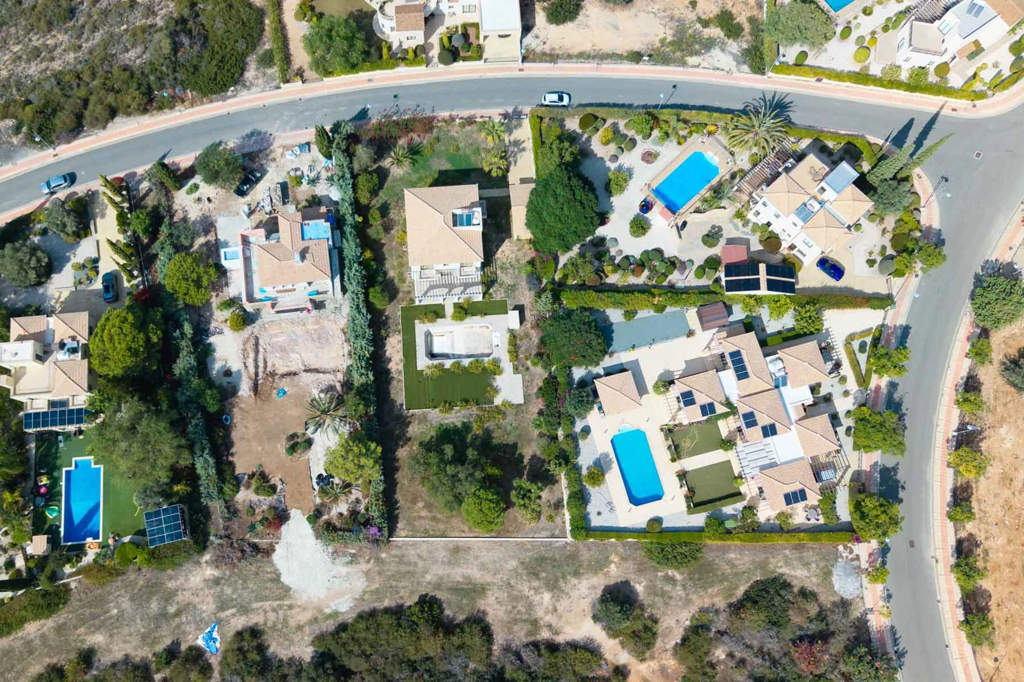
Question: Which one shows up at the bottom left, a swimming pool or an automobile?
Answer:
swimming pool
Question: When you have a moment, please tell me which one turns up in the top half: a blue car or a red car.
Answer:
blue car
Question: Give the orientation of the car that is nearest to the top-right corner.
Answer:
on a diagonal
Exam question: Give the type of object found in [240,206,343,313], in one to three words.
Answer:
house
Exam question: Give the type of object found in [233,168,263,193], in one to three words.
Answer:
car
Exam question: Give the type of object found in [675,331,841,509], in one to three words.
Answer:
house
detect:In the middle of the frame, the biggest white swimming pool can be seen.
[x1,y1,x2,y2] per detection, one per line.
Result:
[422,322,501,363]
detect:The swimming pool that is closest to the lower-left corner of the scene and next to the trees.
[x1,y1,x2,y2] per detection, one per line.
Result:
[60,455,104,546]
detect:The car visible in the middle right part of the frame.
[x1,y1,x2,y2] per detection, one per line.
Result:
[814,257,846,283]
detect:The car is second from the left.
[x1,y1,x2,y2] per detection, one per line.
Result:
[100,271,119,302]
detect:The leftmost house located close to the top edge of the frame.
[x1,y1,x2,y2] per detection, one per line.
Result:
[363,0,480,67]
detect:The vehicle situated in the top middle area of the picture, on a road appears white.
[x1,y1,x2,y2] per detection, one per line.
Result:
[542,91,570,106]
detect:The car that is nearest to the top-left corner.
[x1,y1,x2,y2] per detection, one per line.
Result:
[38,173,72,193]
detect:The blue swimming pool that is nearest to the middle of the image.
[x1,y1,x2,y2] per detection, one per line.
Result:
[609,424,665,508]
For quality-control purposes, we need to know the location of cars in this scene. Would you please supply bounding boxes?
[233,168,263,193]
[814,257,846,283]
[38,173,72,193]
[100,271,119,302]
[542,91,570,106]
